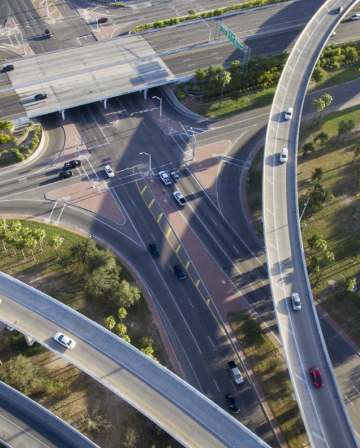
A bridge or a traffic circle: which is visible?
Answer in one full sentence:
This aerial view contains a bridge.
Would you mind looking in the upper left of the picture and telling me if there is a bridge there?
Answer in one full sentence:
Yes, a bridge shows up in the upper left of the picture.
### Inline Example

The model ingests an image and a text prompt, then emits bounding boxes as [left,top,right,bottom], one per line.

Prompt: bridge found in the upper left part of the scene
[8,34,179,120]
